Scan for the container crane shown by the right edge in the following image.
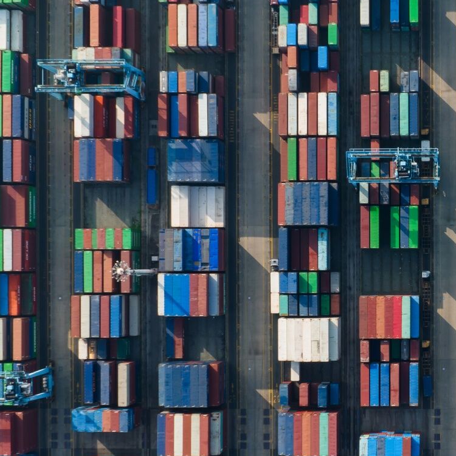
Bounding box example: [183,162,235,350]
[344,150,444,191]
